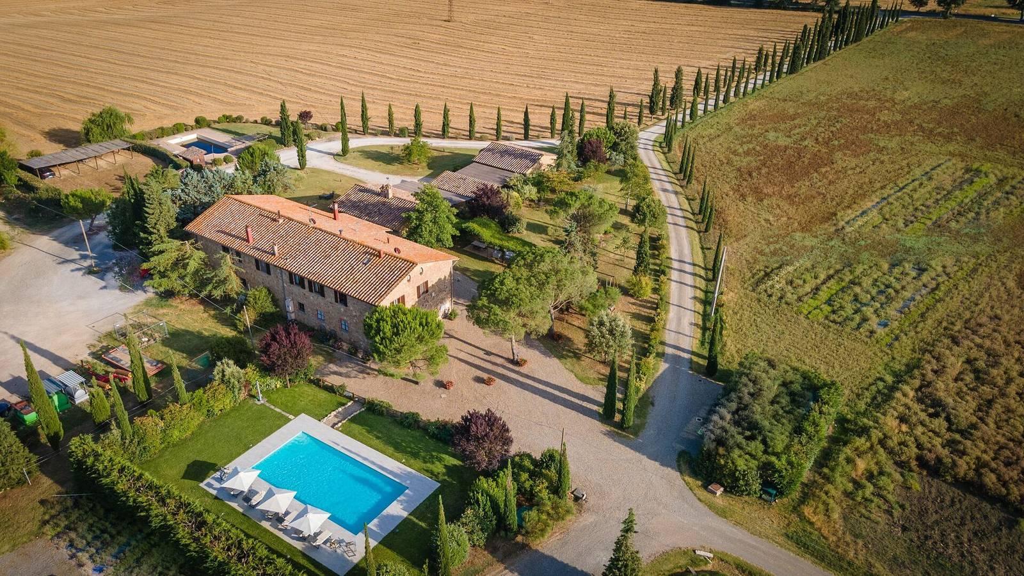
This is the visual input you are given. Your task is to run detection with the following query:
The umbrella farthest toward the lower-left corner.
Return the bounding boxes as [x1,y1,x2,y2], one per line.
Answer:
[221,466,263,502]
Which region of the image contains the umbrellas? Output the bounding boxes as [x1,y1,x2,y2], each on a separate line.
[288,505,334,538]
[221,466,263,502]
[255,486,298,517]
